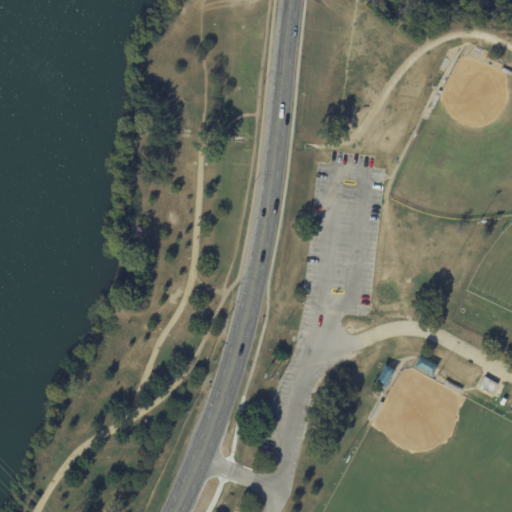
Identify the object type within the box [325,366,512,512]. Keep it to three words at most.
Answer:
baseball field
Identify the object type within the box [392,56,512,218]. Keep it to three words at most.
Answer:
baseball field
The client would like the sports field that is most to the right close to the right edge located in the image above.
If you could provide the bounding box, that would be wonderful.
[468,223,512,312]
